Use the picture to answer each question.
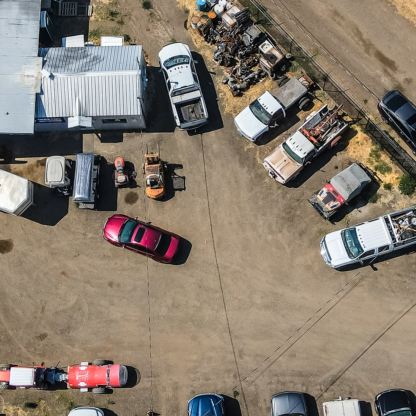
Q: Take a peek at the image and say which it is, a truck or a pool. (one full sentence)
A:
There is a truck in the scene.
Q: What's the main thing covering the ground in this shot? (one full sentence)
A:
The scene is dominated by paved ground.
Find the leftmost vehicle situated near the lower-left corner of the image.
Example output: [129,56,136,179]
[0,362,56,393]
